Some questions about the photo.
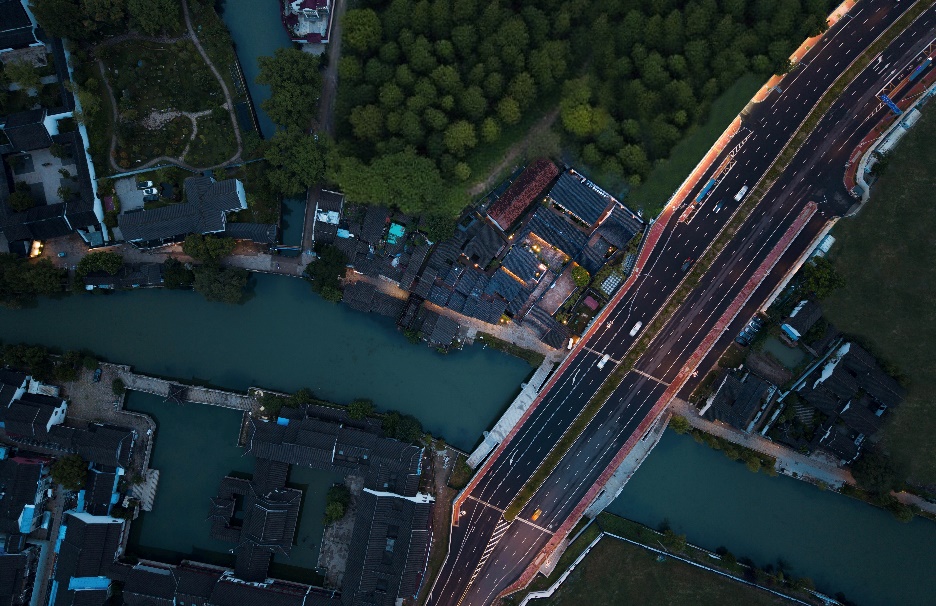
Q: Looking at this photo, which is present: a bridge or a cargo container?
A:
bridge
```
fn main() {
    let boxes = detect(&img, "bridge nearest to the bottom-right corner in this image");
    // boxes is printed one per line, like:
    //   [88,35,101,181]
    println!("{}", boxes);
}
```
[463,345,679,541]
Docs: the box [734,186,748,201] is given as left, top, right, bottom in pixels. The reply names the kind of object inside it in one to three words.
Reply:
vehicle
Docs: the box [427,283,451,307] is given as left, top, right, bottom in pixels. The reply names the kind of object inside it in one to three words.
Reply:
house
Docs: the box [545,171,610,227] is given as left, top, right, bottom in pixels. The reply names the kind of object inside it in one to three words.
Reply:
building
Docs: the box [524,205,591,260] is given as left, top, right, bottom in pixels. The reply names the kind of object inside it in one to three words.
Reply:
building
